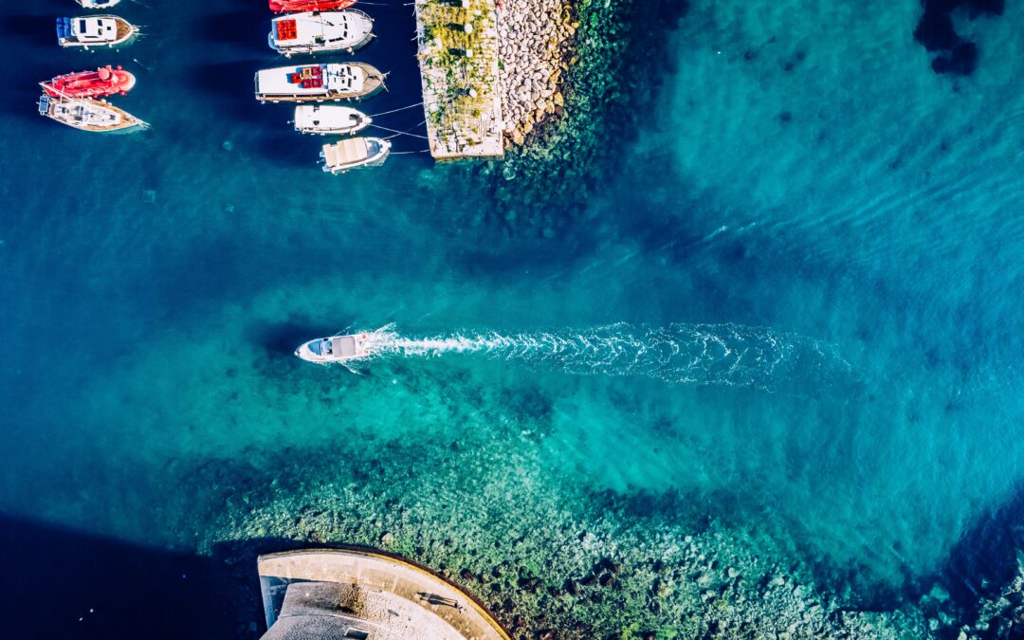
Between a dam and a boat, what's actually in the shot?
boat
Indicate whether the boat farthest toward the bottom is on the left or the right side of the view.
left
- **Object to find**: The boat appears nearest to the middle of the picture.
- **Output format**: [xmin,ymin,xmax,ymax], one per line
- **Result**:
[295,333,374,361]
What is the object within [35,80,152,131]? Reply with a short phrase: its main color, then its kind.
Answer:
white boat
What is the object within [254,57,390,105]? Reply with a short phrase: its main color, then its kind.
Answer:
white boat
